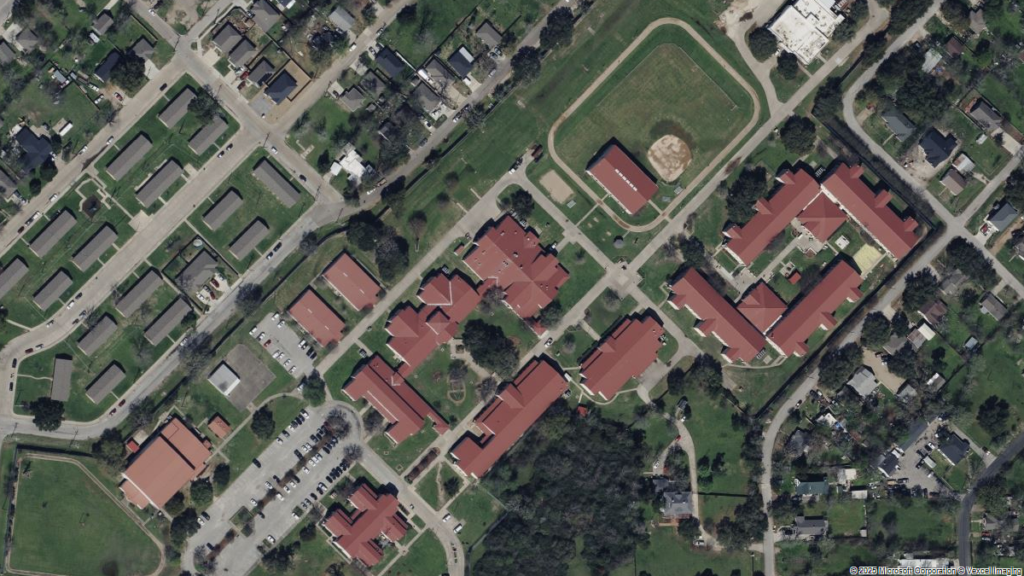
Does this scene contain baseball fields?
Yes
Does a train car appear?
No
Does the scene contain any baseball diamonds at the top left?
No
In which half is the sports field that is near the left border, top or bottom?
bottom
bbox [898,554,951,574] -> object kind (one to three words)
barn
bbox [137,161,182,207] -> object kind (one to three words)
building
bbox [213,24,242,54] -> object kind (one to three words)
house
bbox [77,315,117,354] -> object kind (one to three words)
building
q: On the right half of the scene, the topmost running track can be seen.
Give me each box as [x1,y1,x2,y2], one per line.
[546,17,761,232]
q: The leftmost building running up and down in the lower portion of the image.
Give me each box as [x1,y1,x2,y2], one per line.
[50,357,71,401]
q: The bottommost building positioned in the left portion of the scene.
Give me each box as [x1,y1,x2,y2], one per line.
[324,484,407,567]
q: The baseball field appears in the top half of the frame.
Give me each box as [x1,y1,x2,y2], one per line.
[596,44,738,188]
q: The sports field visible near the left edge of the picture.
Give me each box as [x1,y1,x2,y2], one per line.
[11,457,161,576]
